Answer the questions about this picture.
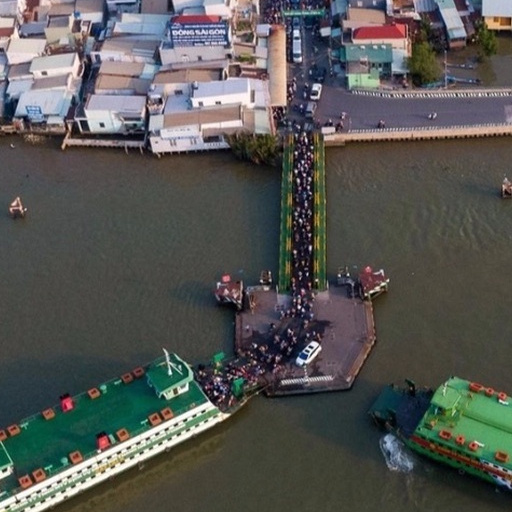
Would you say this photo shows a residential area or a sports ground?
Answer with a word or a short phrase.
residential area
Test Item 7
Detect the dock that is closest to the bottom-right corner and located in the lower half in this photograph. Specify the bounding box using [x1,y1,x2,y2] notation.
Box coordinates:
[233,283,378,401]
